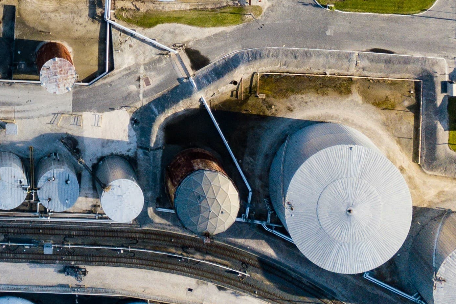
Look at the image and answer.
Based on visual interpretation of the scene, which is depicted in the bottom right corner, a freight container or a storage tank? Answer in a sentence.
Visible in the bottom right corner is a storage tank.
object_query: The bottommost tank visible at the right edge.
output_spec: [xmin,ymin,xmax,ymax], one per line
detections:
[406,208,456,304]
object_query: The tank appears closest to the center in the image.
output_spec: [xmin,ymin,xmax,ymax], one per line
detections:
[163,147,241,243]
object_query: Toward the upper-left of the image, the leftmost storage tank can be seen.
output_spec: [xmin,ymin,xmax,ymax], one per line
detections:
[35,41,77,95]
